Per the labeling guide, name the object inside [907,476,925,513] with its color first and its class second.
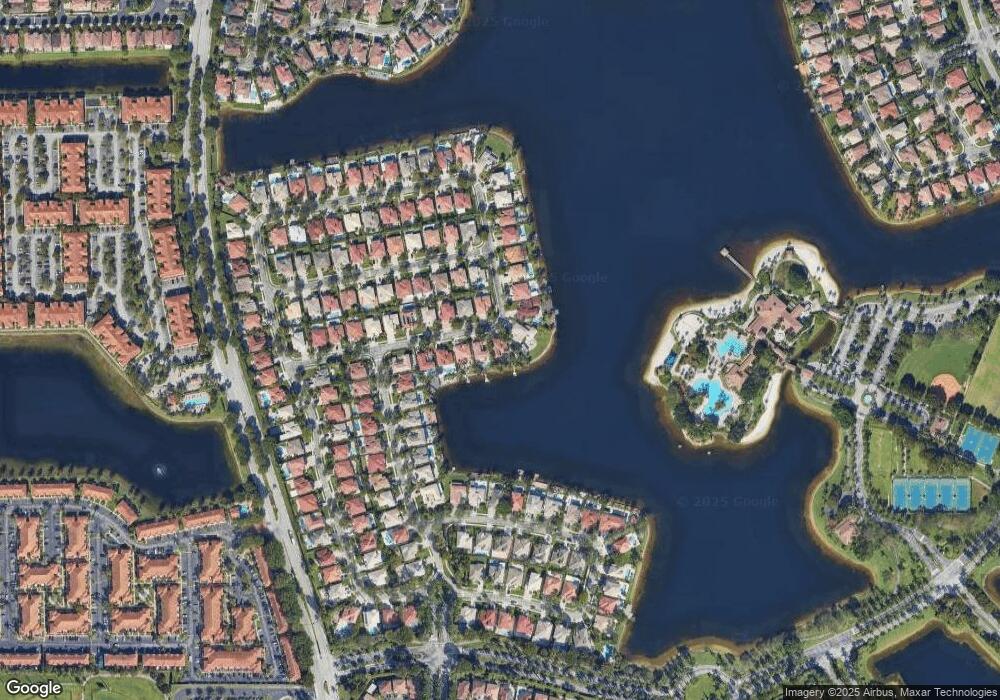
blue tennis court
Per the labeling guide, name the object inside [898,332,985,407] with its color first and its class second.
green baseball field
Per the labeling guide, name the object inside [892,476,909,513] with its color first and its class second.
blue tennis court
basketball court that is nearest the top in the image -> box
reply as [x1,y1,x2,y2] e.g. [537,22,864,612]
[957,421,1000,468]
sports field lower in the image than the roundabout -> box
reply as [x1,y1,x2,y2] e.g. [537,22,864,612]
[869,426,893,500]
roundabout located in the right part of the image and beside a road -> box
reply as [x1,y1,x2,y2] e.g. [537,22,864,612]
[852,376,895,420]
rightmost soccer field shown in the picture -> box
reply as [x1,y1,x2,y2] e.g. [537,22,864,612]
[965,309,1000,420]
